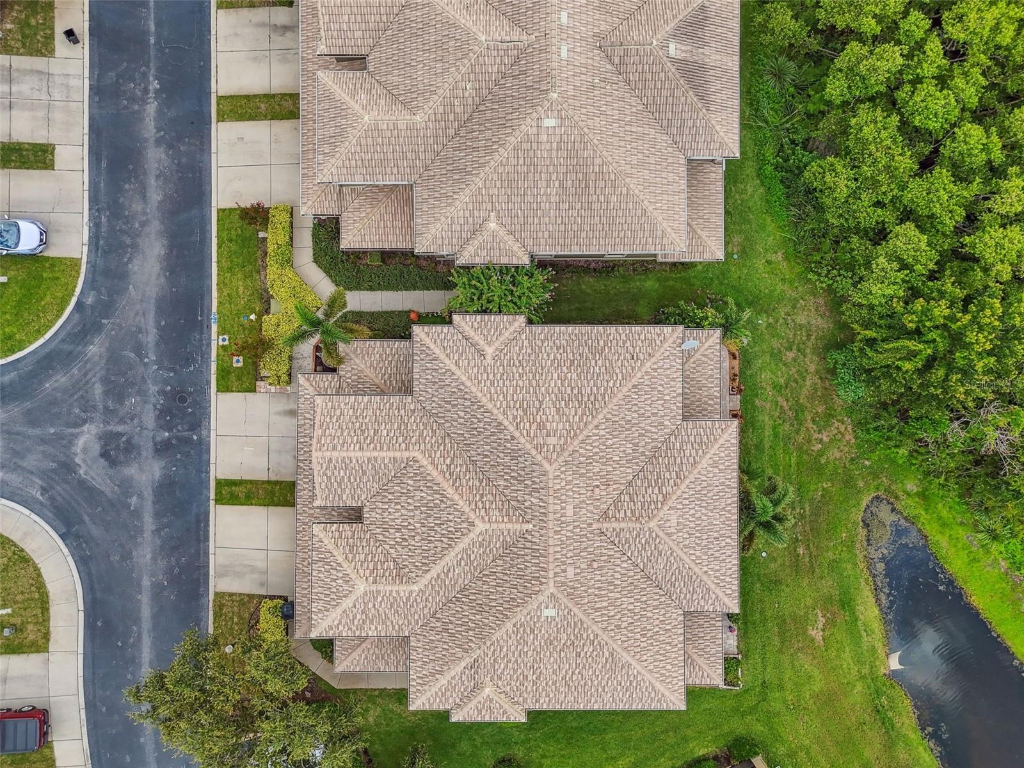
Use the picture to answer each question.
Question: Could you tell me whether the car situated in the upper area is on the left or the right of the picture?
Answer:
left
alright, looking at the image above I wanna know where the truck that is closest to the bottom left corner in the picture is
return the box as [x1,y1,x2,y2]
[0,707,55,757]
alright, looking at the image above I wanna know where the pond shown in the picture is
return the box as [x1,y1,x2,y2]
[863,496,1024,768]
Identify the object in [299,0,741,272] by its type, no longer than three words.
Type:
house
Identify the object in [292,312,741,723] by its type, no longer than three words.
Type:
house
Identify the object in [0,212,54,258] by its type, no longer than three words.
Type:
car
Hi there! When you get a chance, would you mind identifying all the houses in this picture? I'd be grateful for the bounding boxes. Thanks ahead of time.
[299,0,741,272]
[292,312,741,723]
